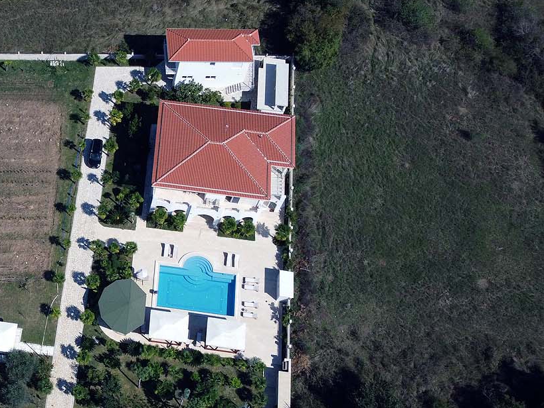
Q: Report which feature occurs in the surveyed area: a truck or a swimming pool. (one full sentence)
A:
Visible in the photo is a swimming pool.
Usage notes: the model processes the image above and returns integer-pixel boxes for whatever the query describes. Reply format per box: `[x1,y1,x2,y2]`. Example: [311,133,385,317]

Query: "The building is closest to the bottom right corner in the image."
[272,272,298,308]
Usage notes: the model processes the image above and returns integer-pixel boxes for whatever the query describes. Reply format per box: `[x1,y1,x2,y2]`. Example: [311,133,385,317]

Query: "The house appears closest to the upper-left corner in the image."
[163,27,261,92]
